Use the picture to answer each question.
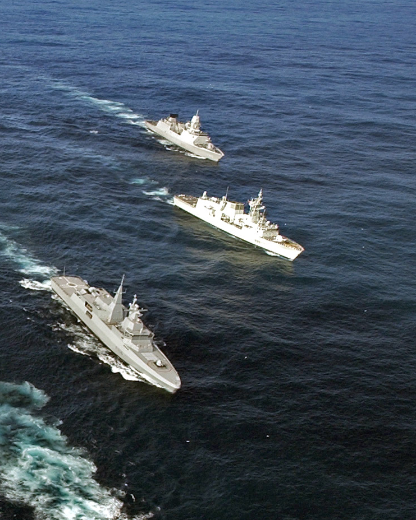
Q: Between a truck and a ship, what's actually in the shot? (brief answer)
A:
ship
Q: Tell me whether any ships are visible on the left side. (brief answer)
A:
Yes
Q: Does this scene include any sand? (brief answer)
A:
No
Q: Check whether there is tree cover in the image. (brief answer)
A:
No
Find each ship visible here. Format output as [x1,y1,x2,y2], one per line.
[141,112,225,163]
[51,270,183,395]
[172,191,304,260]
